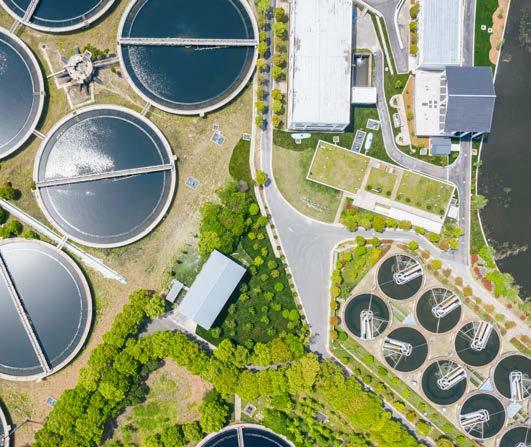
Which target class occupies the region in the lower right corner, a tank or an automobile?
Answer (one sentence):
It is a tank that can be seen in the lower right corner.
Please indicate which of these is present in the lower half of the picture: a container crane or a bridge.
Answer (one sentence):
What appears in the lower half of the picture is a bridge.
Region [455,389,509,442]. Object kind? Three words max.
storage tank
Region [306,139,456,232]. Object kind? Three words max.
building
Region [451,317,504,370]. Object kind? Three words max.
storage tank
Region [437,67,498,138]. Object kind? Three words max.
building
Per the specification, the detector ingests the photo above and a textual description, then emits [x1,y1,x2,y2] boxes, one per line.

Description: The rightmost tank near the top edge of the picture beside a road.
[116,0,259,118]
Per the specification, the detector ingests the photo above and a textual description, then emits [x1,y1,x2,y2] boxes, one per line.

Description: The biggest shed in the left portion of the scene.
[179,250,246,329]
